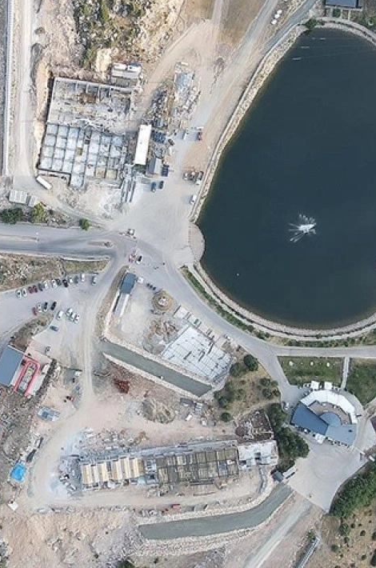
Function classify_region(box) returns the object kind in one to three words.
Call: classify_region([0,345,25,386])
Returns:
house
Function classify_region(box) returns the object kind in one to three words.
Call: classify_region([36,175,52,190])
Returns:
vehicle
